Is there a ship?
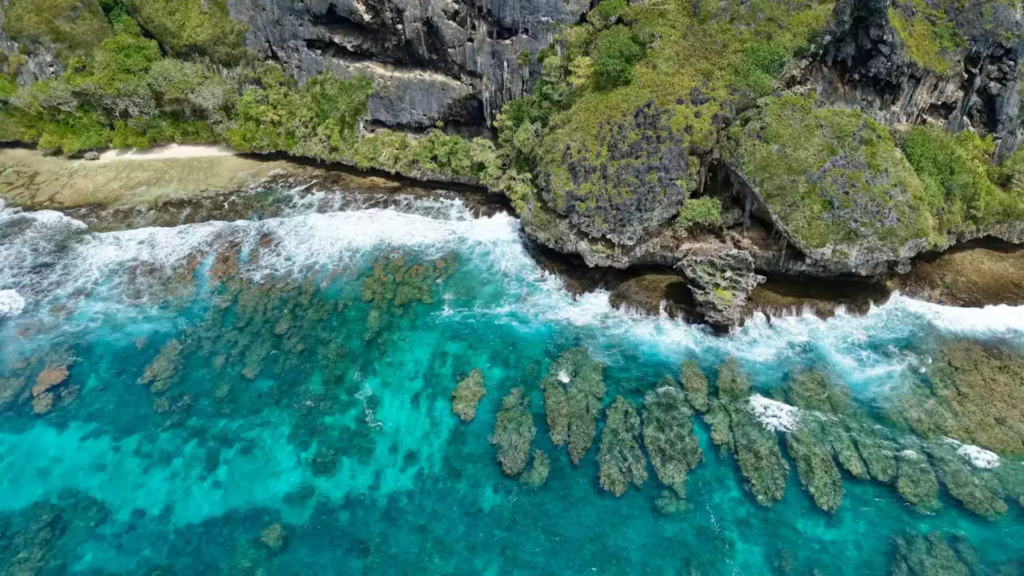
No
